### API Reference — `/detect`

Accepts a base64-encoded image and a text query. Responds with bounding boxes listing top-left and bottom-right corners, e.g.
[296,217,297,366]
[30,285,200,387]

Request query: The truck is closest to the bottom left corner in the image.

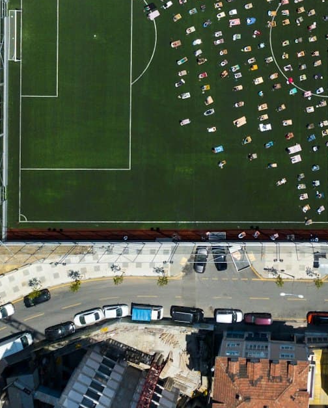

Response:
[0,330,37,362]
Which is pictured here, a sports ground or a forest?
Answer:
sports ground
